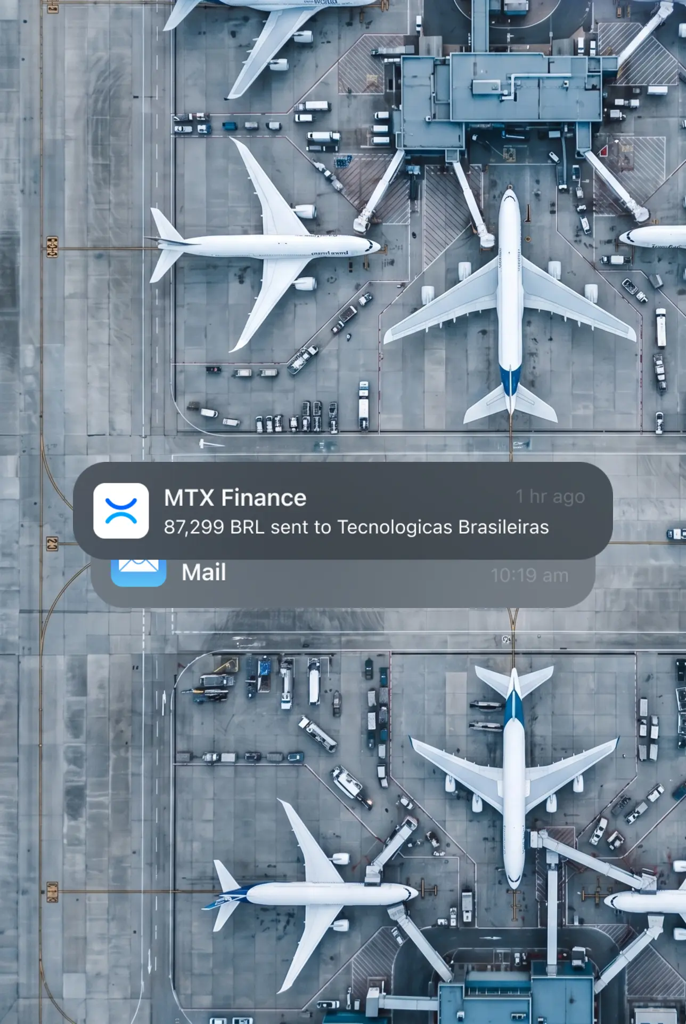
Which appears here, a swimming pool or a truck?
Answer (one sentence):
It is a truck that can be seen here.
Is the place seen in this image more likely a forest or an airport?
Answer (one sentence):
The picture captures an airport.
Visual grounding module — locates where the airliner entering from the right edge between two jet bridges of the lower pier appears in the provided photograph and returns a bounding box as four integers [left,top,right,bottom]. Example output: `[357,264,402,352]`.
[604,862,686,941]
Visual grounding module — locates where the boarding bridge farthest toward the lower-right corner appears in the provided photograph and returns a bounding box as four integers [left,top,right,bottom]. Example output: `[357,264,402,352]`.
[595,913,664,990]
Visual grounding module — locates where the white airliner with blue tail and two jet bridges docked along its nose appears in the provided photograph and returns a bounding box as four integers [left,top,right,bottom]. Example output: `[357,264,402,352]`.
[203,797,418,992]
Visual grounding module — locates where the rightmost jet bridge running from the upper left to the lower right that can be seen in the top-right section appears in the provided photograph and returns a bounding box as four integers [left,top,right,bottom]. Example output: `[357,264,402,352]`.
[581,149,650,224]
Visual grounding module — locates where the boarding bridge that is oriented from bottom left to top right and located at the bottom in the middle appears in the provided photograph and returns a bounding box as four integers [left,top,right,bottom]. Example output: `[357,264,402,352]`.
[366,814,418,885]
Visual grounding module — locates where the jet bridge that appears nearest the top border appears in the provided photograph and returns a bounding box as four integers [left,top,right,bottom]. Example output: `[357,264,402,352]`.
[619,2,674,67]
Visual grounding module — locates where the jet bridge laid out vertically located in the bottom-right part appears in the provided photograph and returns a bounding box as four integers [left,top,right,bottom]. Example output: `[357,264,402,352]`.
[542,850,562,969]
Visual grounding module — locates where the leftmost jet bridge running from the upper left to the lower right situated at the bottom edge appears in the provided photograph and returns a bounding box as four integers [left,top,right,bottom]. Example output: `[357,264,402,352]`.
[388,902,451,979]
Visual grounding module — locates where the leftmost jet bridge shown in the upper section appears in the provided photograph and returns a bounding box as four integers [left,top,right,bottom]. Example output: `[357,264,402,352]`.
[355,148,405,232]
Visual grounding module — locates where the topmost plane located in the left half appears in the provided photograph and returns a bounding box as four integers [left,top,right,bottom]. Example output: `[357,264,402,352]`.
[162,0,384,101]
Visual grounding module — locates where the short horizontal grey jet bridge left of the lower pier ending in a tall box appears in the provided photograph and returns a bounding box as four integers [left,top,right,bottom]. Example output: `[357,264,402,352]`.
[366,982,439,1017]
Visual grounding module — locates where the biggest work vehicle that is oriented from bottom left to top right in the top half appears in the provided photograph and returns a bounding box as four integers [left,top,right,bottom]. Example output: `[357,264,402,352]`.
[286,344,320,375]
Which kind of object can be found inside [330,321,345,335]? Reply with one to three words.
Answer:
vehicle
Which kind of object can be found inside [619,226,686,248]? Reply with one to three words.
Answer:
airplane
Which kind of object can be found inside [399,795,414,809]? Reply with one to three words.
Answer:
car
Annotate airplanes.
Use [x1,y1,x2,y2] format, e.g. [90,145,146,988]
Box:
[162,0,384,101]
[407,667,624,889]
[147,139,380,353]
[604,862,686,941]
[619,226,686,248]
[384,191,637,422]
[203,797,418,992]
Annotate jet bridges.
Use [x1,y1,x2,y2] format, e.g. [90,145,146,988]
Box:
[452,162,495,249]
[388,902,451,979]
[542,850,562,969]
[581,149,650,224]
[355,148,405,232]
[366,982,439,1017]
[595,913,664,990]
[525,827,657,892]
[366,814,418,885]
[619,2,674,67]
